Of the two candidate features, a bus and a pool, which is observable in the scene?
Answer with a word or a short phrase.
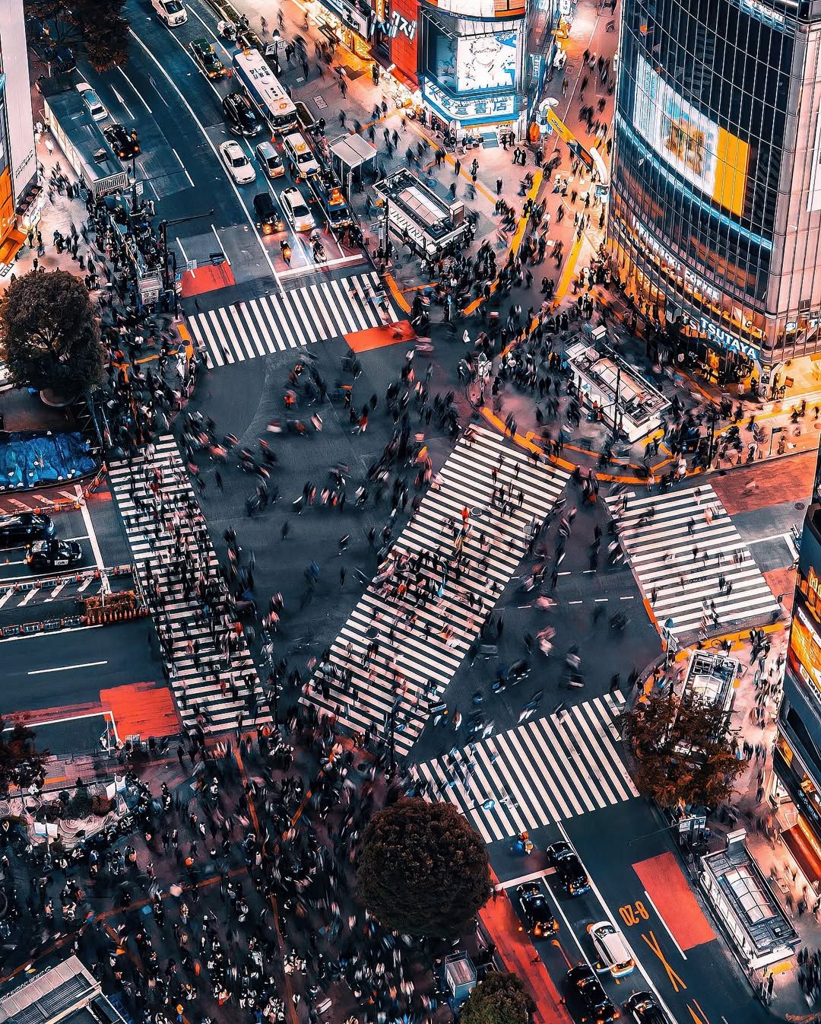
bus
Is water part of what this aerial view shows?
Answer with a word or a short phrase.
No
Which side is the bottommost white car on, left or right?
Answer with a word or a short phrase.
right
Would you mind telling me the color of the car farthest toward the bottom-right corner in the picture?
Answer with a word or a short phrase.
black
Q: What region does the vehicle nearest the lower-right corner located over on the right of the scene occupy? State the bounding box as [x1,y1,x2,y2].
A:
[631,983,673,1024]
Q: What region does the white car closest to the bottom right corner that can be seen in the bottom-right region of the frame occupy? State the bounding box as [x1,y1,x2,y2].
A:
[592,918,637,979]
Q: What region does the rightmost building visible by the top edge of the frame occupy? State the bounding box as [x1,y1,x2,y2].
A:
[604,0,821,406]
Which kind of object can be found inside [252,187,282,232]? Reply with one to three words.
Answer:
van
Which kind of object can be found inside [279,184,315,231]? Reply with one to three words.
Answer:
car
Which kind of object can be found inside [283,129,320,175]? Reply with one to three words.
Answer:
car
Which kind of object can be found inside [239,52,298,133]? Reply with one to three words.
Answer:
bus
